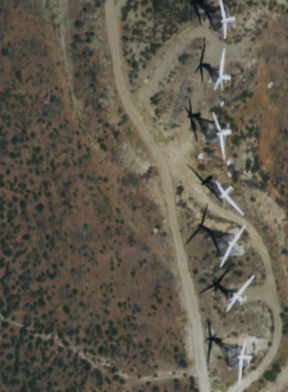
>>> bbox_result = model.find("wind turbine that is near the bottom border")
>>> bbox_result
[226,338,254,386]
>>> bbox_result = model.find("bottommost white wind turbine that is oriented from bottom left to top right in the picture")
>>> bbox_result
[226,272,254,310]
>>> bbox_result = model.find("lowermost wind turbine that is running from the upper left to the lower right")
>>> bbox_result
[212,182,245,216]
